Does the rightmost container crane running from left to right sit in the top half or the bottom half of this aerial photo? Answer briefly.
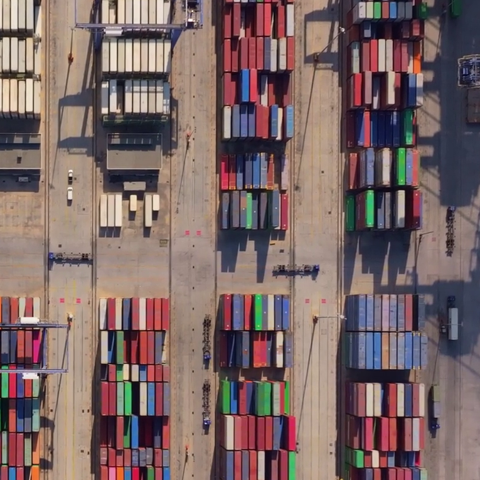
top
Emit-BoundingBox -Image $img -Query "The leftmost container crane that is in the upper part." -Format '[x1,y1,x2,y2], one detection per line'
[75,0,207,54]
